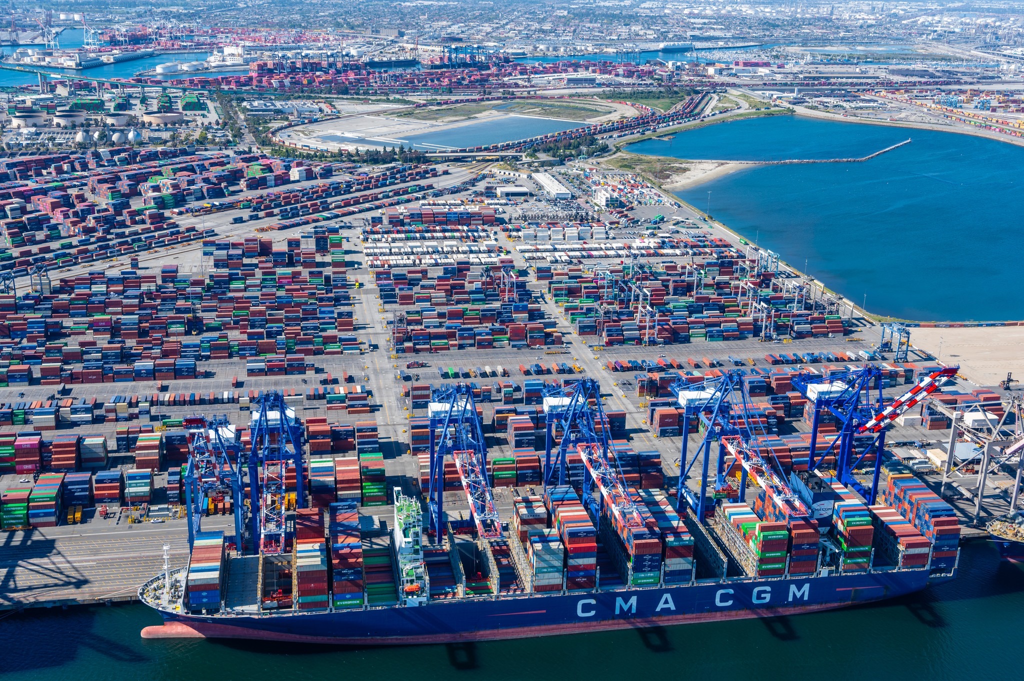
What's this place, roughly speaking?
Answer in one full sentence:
This image shows a port.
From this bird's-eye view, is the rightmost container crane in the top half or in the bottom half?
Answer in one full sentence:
You can find the rightmost container crane in the bottom half.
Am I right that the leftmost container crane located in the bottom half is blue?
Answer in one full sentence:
Yes, the leftmost container crane located in the bottom half appears blue.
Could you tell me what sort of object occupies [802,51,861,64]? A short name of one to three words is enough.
ship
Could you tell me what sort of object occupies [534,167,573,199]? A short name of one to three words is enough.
building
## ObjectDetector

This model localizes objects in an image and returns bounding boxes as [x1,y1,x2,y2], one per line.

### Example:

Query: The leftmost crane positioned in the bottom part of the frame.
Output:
[180,412,253,561]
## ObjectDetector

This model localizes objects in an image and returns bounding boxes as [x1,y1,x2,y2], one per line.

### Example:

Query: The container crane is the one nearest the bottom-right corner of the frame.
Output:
[932,394,1024,532]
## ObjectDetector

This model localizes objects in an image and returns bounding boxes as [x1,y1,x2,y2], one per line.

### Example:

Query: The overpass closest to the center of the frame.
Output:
[403,150,566,171]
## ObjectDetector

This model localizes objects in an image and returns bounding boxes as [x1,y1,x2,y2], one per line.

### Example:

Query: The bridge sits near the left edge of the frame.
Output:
[0,64,287,98]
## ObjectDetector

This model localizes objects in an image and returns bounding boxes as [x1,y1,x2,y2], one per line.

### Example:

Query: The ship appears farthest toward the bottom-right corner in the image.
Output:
[961,513,1024,565]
